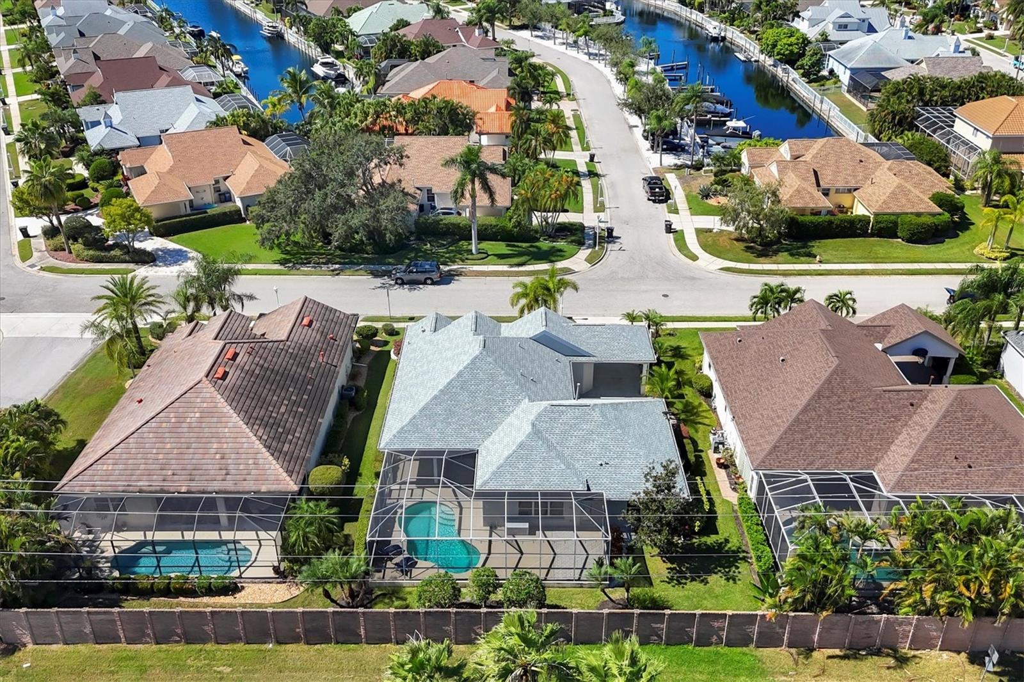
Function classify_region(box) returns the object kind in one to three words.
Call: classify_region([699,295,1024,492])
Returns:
house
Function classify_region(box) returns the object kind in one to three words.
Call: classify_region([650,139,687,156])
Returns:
car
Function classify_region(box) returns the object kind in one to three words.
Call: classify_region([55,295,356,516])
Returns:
house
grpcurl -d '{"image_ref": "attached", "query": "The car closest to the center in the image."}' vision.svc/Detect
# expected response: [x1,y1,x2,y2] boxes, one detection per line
[393,262,443,286]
